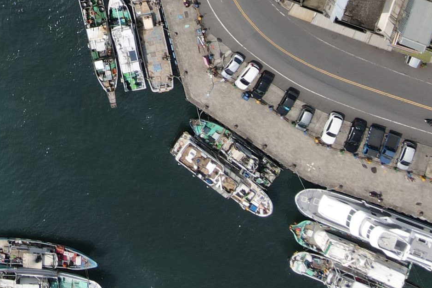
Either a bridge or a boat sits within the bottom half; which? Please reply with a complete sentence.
What appears within the bottom half is a boat.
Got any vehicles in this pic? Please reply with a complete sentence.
Yes, a vehicle can be made out from above.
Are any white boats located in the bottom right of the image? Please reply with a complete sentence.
Yes, a white boat is visible in the bottom right of the image.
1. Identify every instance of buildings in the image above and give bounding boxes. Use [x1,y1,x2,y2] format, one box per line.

[325,0,387,32]
[381,0,432,54]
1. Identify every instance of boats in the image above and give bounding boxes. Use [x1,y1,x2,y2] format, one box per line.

[0,236,100,272]
[80,0,117,107]
[292,183,432,265]
[188,116,279,187]
[288,252,393,288]
[171,130,273,217]
[0,268,99,288]
[108,0,146,92]
[131,0,172,93]
[290,220,424,282]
